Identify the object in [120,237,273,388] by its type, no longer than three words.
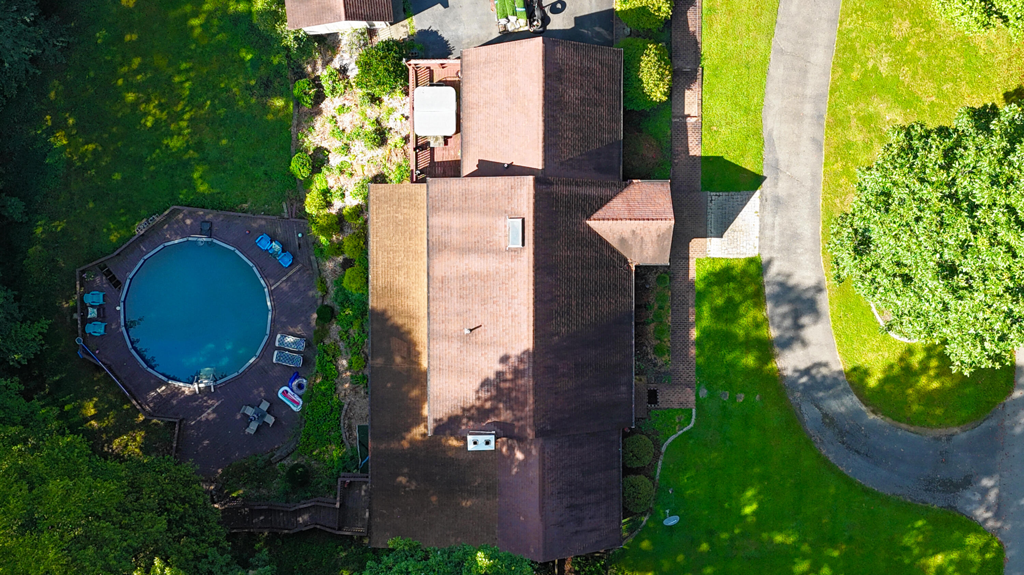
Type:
swimming pool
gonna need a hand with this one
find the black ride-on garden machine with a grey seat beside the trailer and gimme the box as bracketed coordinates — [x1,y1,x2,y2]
[528,0,548,31]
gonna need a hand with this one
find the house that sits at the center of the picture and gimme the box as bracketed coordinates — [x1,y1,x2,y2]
[367,36,674,563]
